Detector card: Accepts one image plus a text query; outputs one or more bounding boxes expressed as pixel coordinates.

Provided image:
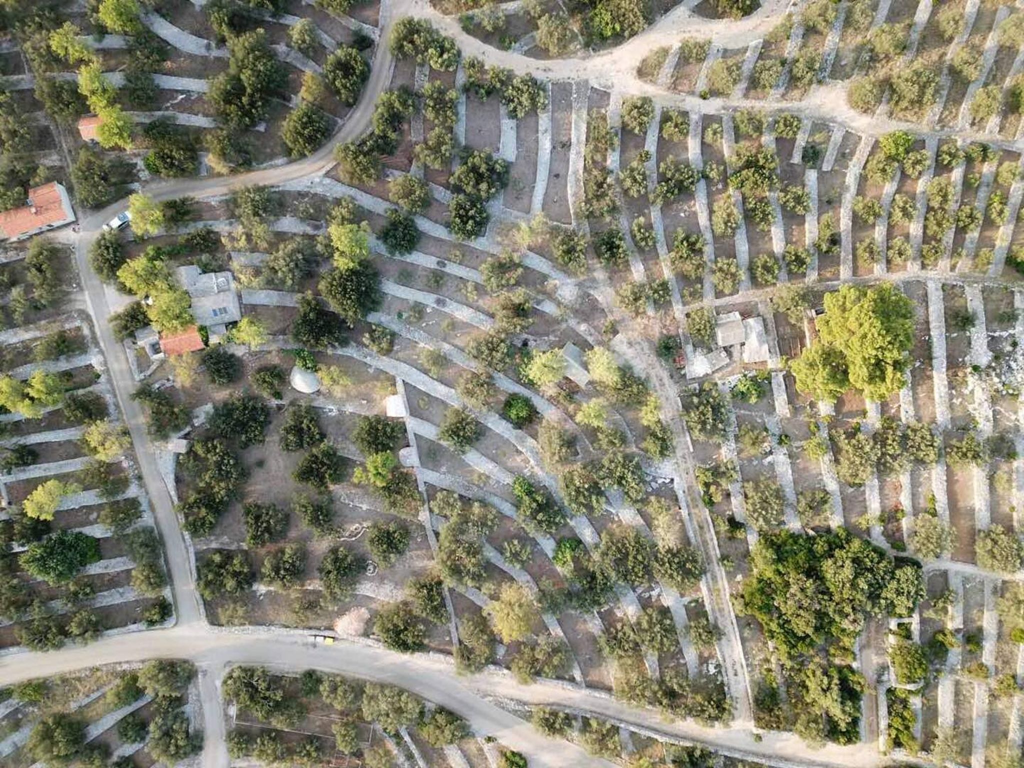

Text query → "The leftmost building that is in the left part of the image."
[0,181,74,244]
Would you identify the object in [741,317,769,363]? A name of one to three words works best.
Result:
shed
